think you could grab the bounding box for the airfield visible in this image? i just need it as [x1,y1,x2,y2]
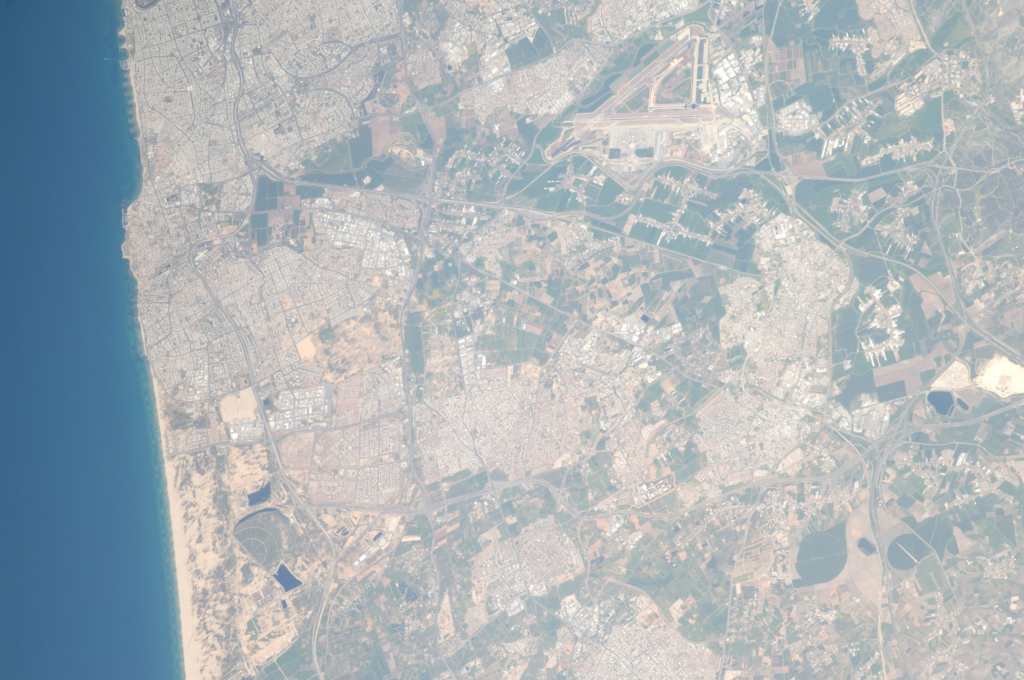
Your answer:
[546,26,756,170]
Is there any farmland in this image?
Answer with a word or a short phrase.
Yes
